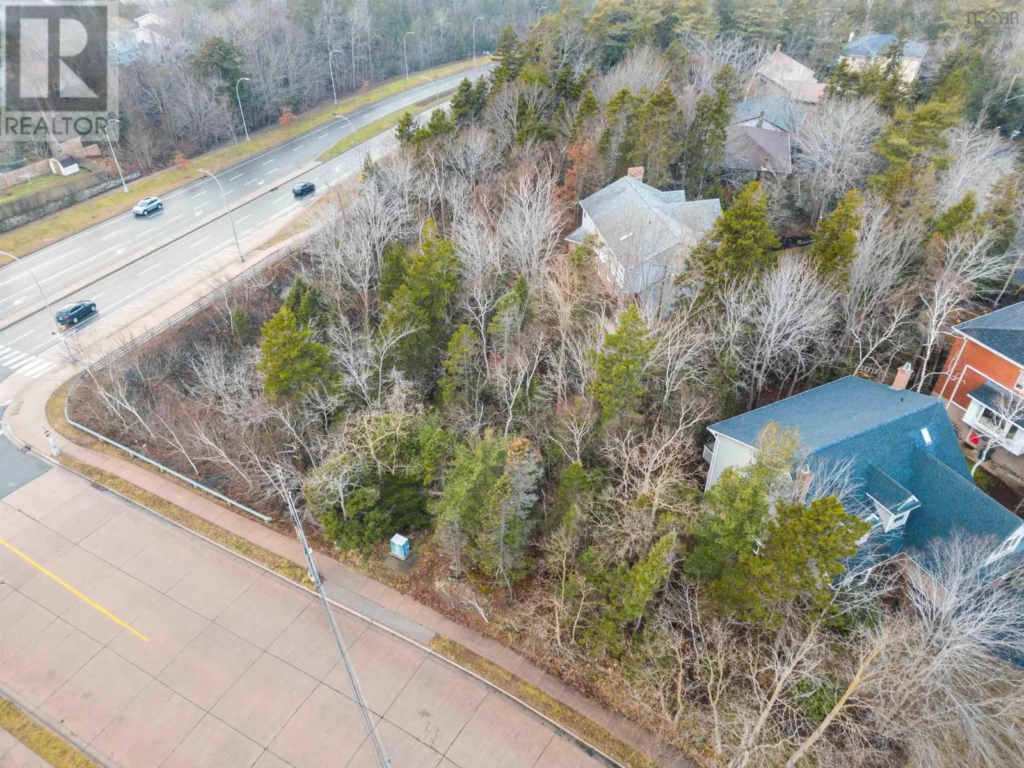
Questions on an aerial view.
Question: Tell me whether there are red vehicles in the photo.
No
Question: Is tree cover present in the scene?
Yes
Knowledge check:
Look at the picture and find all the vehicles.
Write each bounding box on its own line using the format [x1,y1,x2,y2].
[289,184,316,200]
[131,197,164,218]
[53,304,99,329]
